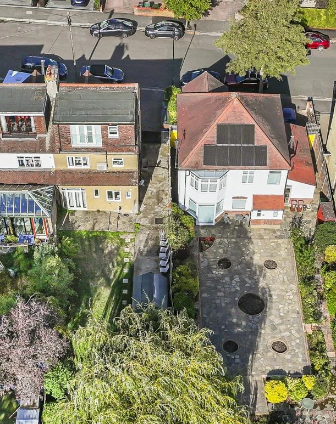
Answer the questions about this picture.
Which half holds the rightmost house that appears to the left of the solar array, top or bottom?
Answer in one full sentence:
Seen from above, the rightmost house that appears to the left of the solar array lies in the top half of the view.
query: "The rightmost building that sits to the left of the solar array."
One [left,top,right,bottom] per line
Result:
[52,69,147,214]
